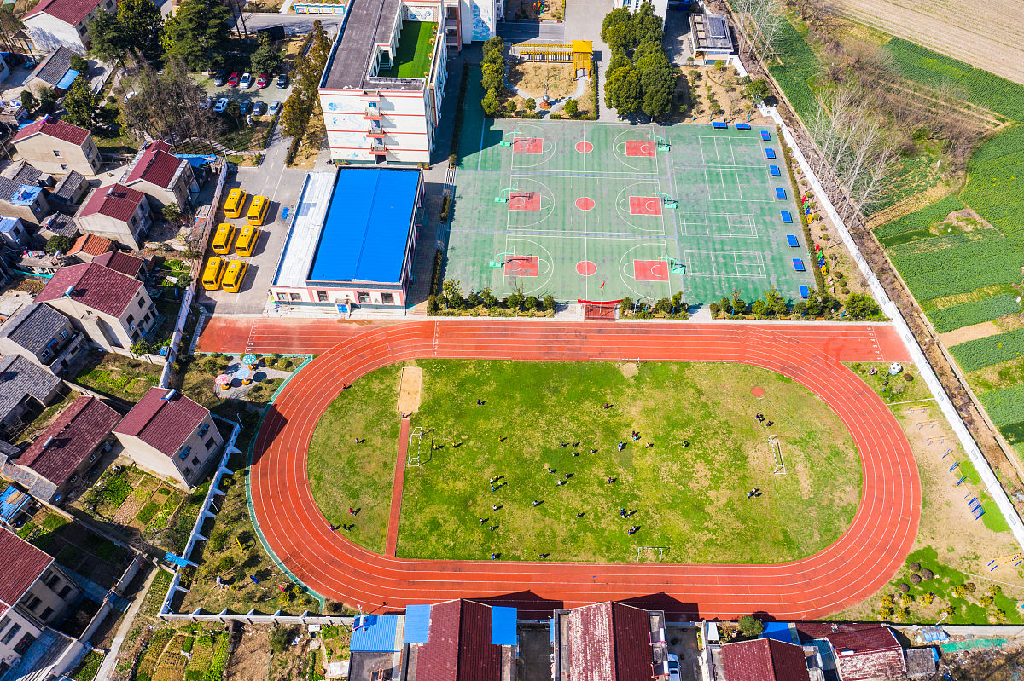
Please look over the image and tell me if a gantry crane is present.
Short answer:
No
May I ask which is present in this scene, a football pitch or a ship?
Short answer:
football pitch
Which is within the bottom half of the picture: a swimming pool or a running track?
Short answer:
running track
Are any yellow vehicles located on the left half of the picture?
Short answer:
Yes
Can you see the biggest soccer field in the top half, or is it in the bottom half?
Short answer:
bottom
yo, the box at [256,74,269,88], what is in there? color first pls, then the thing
red vehicle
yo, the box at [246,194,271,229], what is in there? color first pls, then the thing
yellow bus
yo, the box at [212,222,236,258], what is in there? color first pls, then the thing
yellow bus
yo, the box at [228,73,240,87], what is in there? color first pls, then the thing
red vehicle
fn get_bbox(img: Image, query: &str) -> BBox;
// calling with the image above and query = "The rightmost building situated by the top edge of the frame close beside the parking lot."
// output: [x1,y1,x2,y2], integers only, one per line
[318,0,451,161]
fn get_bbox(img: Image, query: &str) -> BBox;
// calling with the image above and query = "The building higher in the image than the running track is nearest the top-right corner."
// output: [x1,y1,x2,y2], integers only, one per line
[682,12,733,65]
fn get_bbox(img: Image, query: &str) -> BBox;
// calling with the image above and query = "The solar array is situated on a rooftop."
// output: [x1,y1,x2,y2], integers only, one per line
[703,14,725,35]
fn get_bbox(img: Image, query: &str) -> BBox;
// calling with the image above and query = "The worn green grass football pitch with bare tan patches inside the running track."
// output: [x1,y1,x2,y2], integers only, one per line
[307,358,863,564]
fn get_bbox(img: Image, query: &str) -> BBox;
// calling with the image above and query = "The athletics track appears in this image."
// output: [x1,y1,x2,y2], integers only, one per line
[196,317,924,624]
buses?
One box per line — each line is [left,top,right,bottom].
[221,258,247,297]
[201,255,227,294]
[212,222,236,258]
[234,223,259,260]
[223,187,248,221]
[246,194,271,229]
